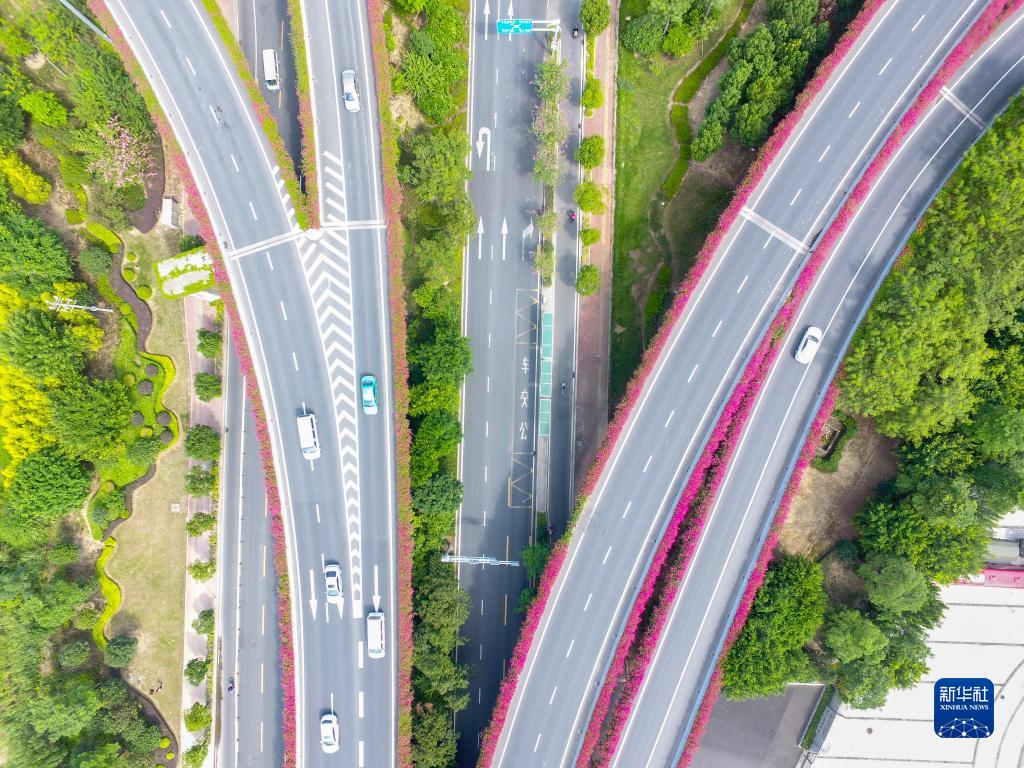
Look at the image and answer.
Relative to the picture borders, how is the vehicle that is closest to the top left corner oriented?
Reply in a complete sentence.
The vehicle that is closest to the top left corner is oriented from top to bottom.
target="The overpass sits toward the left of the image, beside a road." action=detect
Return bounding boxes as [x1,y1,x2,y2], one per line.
[101,0,407,768]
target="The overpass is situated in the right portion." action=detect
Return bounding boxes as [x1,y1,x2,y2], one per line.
[484,0,995,768]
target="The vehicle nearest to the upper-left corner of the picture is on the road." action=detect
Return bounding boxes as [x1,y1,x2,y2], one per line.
[261,46,281,91]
